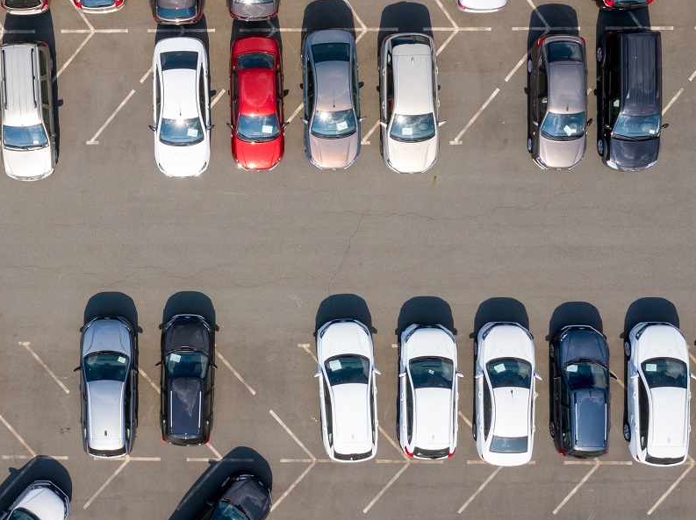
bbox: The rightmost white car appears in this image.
[625,321,696,466]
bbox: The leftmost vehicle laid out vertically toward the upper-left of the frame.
[0,42,59,181]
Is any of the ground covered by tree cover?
No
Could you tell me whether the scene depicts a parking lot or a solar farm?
parking lot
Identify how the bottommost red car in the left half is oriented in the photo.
from top to bottom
